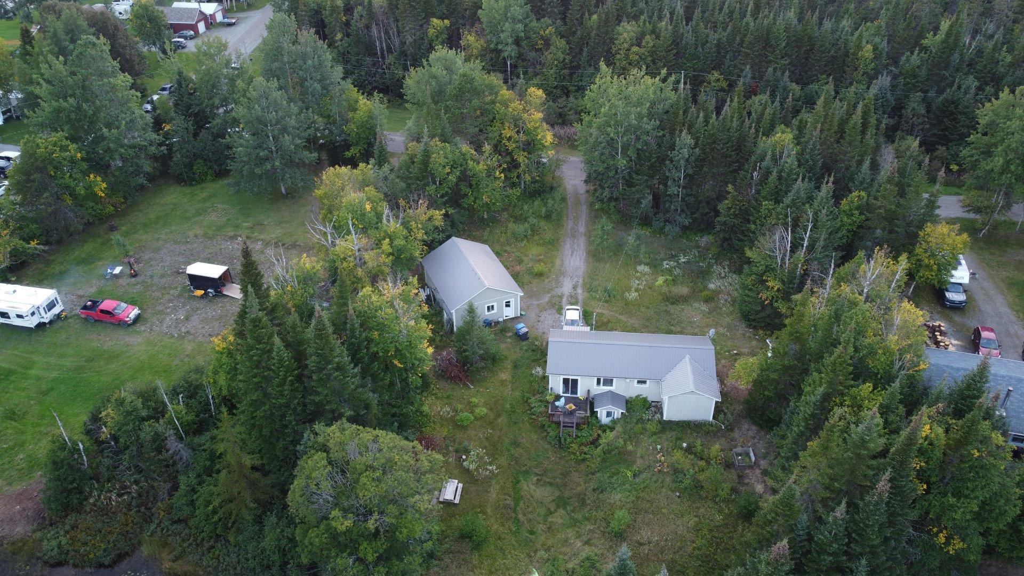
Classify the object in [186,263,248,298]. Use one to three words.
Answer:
trailer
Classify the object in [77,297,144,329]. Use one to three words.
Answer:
truck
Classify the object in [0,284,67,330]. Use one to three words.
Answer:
trailer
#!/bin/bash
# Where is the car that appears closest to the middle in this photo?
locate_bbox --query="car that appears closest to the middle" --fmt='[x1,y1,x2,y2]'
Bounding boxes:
[564,306,589,328]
